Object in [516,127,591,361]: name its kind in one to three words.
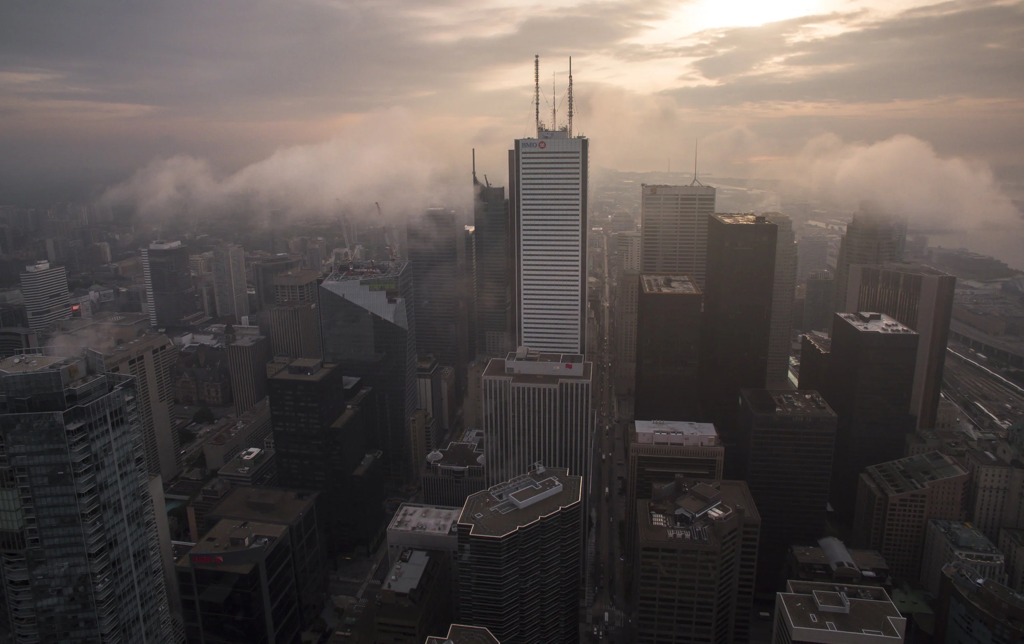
building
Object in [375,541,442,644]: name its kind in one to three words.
building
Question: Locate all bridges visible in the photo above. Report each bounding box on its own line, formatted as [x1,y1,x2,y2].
[947,327,1024,368]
